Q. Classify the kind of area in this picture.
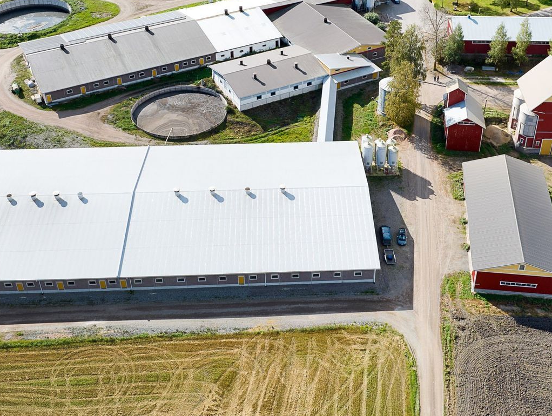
industrial area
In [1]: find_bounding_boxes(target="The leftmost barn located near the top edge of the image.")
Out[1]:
[21,9,219,105]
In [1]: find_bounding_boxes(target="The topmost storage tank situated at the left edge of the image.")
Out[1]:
[0,0,70,38]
